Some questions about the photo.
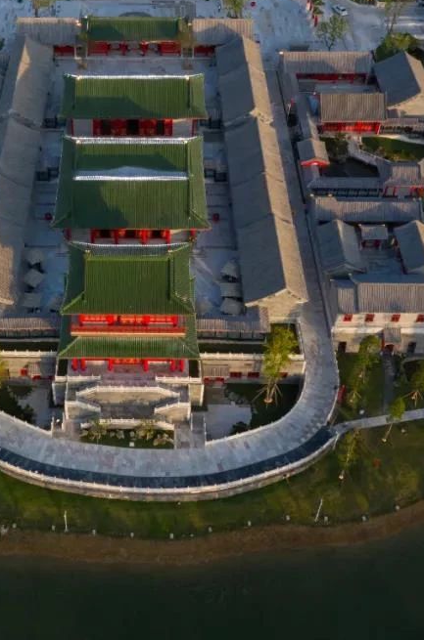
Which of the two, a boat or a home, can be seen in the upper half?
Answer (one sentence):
Looking in the upper half, you will find a home.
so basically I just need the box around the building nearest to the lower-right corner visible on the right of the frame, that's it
[327,278,424,362]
